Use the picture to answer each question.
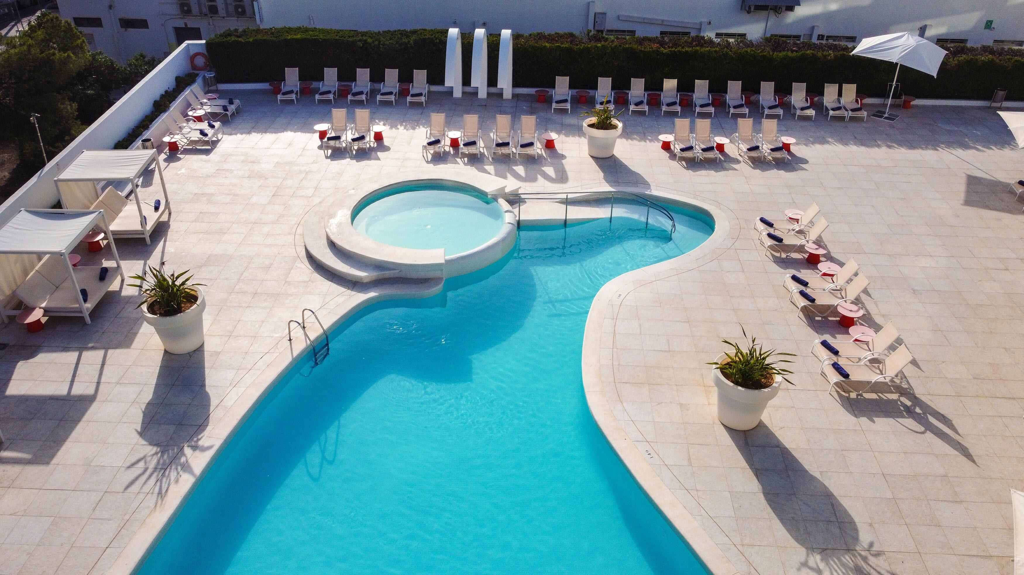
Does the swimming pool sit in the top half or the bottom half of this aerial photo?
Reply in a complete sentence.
You can find the swimming pool in the bottom half.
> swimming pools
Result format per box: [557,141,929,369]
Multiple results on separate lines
[128,191,714,575]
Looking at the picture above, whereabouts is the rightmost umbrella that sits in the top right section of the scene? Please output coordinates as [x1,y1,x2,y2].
[995,110,1024,150]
